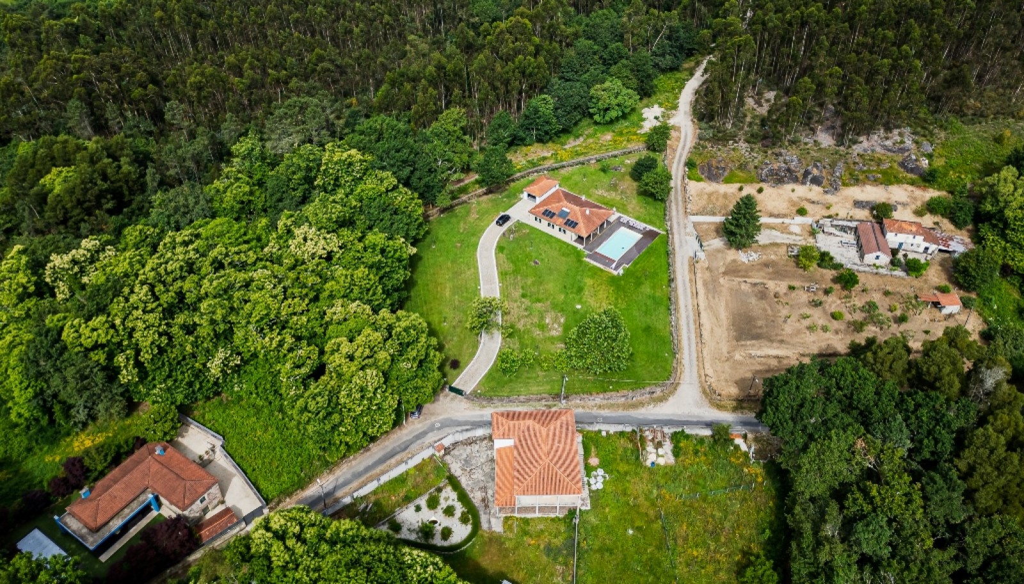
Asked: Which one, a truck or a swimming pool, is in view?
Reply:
swimming pool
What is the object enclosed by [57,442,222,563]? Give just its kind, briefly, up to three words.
house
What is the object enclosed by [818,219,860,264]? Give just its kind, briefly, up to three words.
shed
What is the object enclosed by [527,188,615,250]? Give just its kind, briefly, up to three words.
house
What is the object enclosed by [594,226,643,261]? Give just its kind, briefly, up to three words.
swimming pool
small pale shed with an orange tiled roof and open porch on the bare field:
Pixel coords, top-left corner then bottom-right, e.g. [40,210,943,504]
[917,293,962,312]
